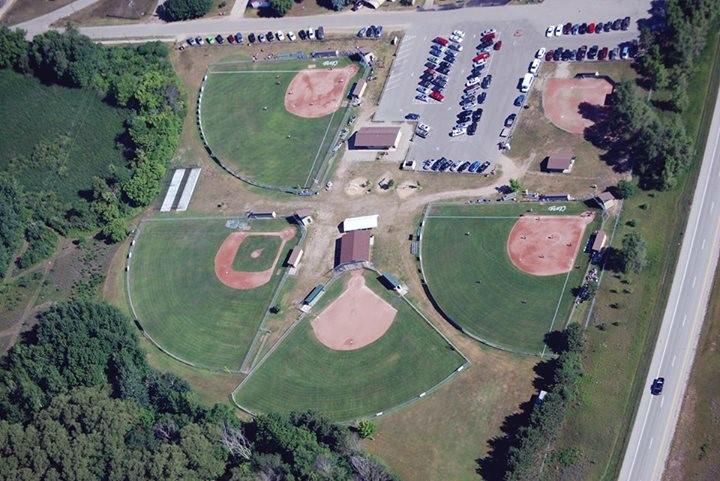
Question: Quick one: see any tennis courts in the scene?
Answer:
No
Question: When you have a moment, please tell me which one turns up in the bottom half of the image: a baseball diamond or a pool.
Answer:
baseball diamond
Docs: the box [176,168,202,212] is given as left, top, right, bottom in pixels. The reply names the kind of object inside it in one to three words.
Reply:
shed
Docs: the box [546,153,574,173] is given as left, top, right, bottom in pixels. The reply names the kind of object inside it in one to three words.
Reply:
building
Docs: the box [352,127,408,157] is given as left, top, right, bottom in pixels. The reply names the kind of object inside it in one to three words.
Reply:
building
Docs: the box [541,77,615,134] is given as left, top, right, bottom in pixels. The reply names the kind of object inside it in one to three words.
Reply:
baseball field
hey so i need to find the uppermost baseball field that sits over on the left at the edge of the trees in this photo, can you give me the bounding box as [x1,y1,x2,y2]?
[197,57,365,193]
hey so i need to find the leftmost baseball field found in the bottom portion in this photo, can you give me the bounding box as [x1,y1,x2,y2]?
[127,217,306,372]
